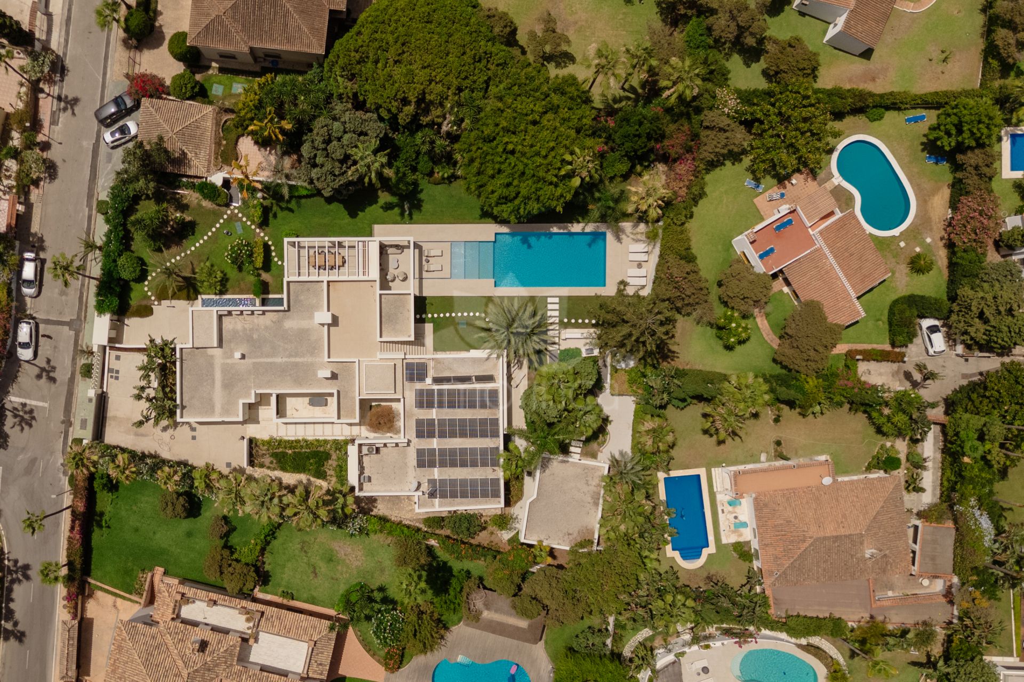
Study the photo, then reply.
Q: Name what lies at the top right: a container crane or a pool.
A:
pool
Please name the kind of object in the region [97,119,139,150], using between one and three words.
car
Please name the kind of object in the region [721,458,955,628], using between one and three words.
house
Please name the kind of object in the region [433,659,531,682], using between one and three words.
swimming pool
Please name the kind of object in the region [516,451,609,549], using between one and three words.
building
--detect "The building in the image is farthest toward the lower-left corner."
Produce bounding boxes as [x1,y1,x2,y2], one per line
[105,567,339,682]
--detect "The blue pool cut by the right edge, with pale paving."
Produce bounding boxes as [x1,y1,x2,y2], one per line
[1001,126,1024,179]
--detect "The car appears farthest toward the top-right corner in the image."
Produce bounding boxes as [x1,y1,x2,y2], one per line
[917,319,945,359]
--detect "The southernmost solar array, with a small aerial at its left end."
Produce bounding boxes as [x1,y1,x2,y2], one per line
[428,479,499,498]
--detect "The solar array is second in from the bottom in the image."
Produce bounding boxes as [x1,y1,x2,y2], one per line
[417,448,499,468]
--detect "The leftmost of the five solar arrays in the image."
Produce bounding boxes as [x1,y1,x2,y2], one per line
[406,362,426,382]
